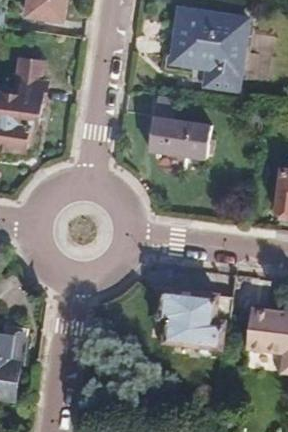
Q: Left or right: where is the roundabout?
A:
left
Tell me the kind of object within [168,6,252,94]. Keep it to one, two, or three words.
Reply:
house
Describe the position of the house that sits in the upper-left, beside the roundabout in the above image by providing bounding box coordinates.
[0,58,49,155]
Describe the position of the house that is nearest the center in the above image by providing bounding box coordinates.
[148,114,215,163]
